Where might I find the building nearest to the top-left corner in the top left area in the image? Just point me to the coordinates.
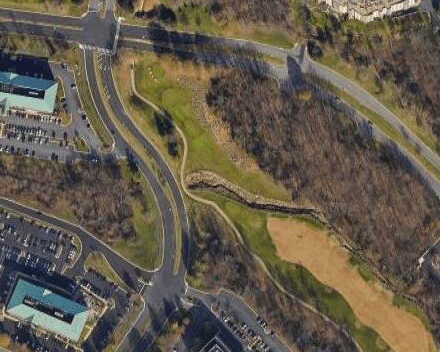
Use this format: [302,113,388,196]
[0,70,58,113]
